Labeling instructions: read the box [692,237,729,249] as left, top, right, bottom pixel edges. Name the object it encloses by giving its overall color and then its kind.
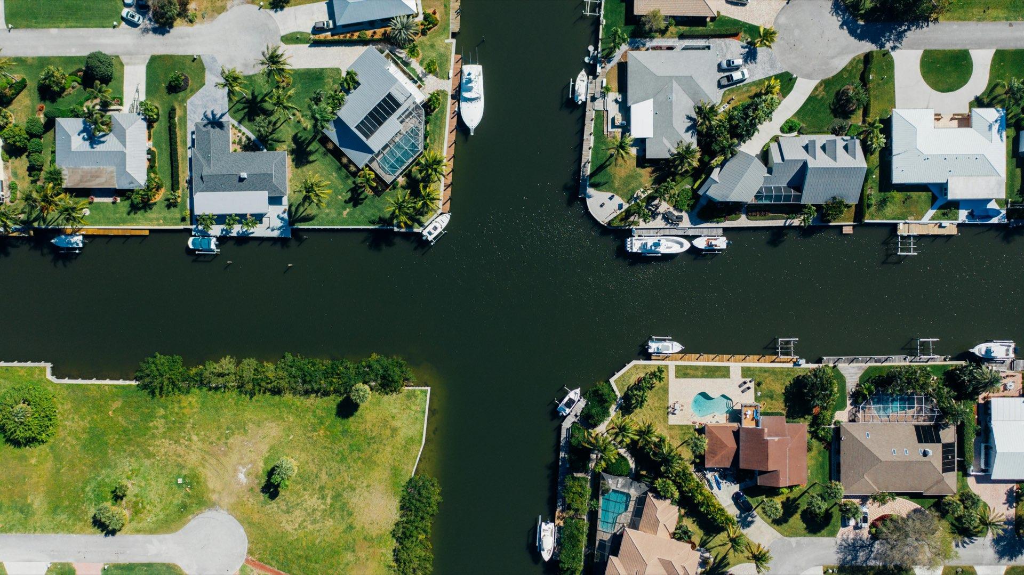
white boat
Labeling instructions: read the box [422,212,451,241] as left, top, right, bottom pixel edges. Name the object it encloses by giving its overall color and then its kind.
white boat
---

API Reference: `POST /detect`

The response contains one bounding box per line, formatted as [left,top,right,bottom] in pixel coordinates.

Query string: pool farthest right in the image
[871,393,916,419]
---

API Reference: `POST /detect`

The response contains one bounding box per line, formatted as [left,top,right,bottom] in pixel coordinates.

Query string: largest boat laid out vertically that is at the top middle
[460,45,484,137]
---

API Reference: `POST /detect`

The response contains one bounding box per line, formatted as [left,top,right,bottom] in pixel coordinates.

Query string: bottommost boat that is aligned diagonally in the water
[555,387,581,418]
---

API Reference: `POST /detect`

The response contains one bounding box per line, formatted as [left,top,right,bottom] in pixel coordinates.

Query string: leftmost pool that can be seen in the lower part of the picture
[598,489,632,532]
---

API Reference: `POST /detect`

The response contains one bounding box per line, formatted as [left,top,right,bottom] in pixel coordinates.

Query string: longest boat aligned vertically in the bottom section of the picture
[540,519,554,564]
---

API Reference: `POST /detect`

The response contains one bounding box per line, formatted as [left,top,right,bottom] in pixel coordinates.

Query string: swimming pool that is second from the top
[754,190,786,202]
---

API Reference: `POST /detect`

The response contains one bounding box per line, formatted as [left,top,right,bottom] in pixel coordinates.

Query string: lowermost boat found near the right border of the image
[968,342,1019,358]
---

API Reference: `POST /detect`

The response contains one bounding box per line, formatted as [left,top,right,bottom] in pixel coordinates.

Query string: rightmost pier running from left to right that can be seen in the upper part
[897,223,958,236]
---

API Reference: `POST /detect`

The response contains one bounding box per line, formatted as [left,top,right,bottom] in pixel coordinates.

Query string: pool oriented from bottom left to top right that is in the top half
[378,125,422,175]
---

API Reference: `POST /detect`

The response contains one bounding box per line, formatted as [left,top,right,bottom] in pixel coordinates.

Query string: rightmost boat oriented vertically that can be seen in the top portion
[574,66,588,106]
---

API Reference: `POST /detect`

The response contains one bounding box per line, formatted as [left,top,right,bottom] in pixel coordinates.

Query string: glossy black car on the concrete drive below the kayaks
[731,489,752,514]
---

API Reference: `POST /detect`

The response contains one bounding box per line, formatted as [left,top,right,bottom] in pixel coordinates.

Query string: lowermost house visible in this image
[606,492,700,575]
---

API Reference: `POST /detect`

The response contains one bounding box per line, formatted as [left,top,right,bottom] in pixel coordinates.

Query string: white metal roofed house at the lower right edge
[987,397,1024,479]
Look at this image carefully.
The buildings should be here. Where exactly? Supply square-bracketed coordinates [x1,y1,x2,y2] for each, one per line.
[628,50,718,158]
[606,492,700,575]
[698,136,867,204]
[323,45,426,169]
[55,113,149,189]
[634,0,716,17]
[890,108,1006,199]
[192,121,288,214]
[987,397,1024,479]
[0,137,8,198]
[839,423,956,495]
[705,416,807,487]
[332,0,417,26]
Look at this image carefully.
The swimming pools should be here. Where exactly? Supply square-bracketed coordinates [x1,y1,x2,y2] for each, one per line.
[598,489,632,532]
[871,393,916,419]
[378,125,422,175]
[690,391,734,418]
[754,190,786,202]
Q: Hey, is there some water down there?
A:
Yes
